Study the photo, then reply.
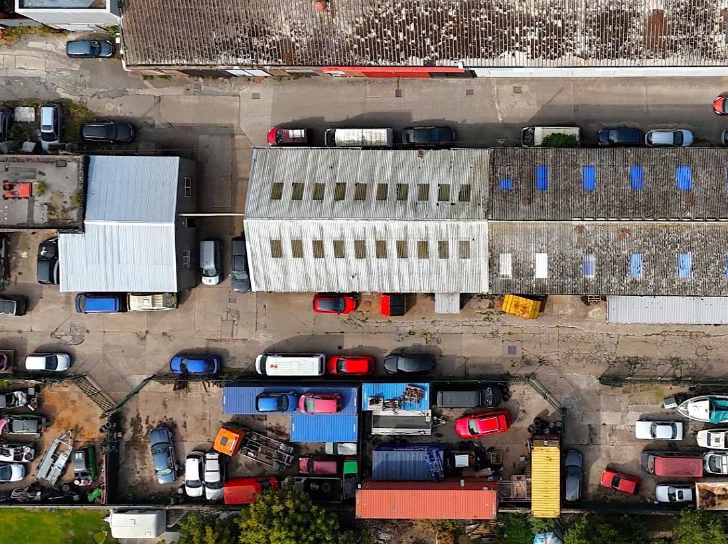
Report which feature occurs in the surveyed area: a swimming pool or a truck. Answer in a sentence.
I can see a truck in this picture.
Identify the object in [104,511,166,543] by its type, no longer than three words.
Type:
camper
